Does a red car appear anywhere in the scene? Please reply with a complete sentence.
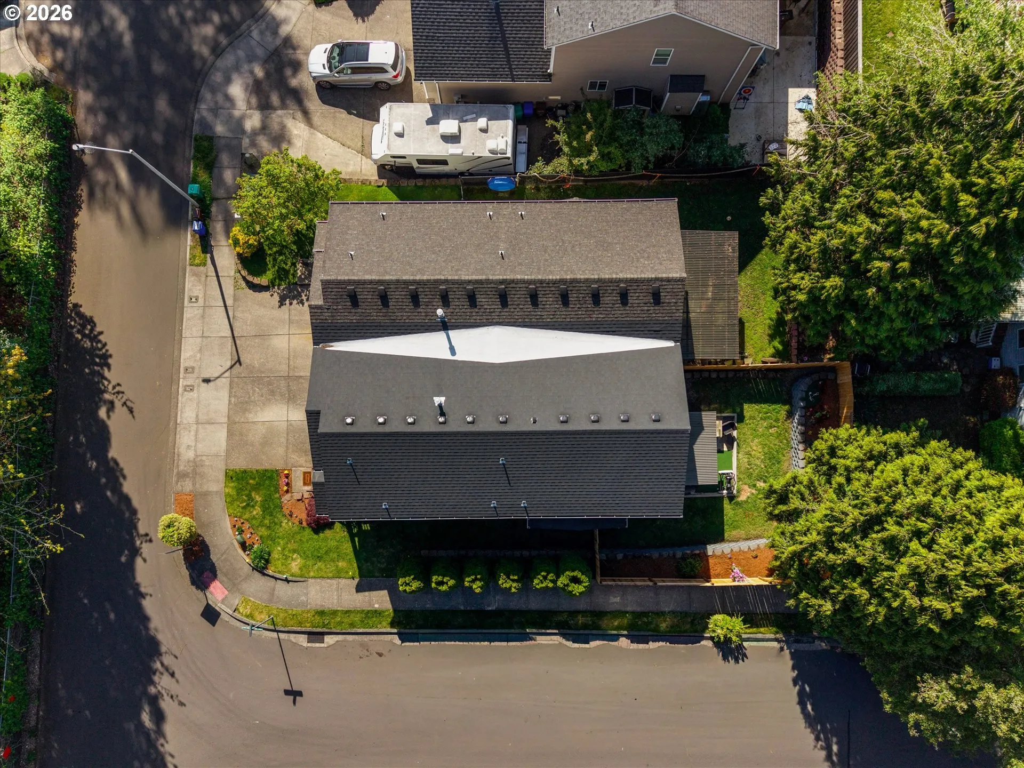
No, there appears to be no red car in this shot.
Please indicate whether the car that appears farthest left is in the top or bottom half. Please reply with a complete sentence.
The top half of the photo is where the car that appears farthest left is.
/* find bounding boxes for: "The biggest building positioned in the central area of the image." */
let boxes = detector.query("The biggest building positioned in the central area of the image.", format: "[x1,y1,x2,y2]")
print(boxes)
[304,199,691,528]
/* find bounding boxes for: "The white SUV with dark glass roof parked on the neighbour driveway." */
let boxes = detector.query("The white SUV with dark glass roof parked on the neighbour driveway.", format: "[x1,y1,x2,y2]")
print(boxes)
[303,42,404,92]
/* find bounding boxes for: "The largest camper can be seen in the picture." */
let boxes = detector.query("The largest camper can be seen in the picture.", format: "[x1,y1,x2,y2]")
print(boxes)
[372,104,514,173]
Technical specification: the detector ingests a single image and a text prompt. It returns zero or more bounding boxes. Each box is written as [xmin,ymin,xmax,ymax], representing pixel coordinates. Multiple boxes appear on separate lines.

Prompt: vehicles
[372,104,514,173]
[303,42,404,92]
